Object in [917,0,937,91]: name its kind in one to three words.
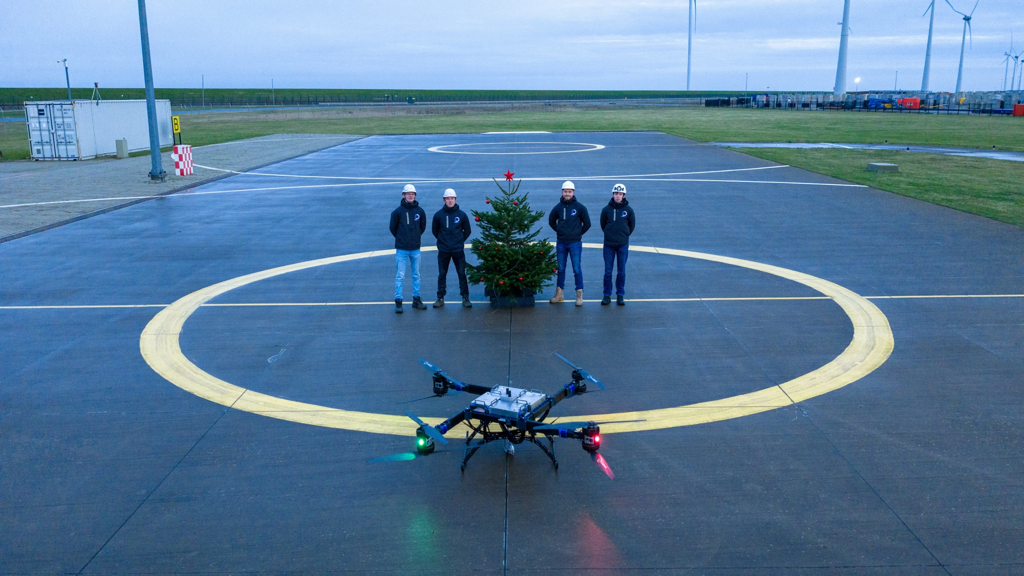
wind turbine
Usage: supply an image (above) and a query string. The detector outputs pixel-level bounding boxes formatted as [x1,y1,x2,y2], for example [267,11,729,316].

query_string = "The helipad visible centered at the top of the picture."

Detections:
[161,132,791,179]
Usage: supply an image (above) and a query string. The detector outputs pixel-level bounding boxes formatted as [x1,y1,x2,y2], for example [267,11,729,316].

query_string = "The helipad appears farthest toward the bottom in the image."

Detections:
[0,179,1024,437]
